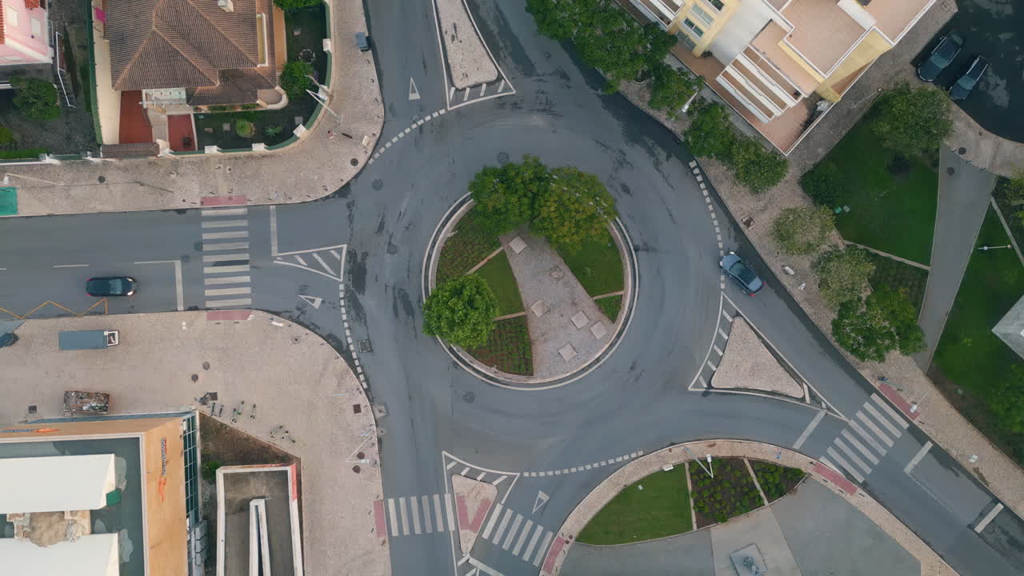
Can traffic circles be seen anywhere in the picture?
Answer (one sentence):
Yes, looking at the shot, I can spot a traffic circle.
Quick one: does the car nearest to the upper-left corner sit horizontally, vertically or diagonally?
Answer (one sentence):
In this picture, the car nearest to the upper-left corner is oriented horizontally.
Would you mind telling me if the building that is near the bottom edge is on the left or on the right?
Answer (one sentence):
You can find the building that is near the bottom edge on the left side of the picture.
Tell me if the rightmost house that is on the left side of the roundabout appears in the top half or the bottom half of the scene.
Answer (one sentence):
You can find the rightmost house that is on the left side of the roundabout in the top half.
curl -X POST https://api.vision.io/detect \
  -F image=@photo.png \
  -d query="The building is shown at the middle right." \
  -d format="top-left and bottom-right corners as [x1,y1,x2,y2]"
[990,296,1024,359]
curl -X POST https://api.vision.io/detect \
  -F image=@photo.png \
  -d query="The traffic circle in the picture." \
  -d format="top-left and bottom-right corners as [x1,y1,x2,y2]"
[322,74,737,489]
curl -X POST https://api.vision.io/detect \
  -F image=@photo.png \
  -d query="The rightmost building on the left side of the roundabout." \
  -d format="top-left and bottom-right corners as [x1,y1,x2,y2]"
[109,0,293,149]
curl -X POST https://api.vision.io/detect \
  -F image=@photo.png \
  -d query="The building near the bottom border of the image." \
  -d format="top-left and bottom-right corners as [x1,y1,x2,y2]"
[0,408,205,576]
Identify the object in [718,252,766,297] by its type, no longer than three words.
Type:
car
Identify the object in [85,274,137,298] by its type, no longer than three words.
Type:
car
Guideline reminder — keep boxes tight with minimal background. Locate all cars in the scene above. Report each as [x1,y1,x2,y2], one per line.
[0,328,16,354]
[947,53,993,103]
[718,252,766,297]
[918,27,967,80]
[85,274,137,298]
